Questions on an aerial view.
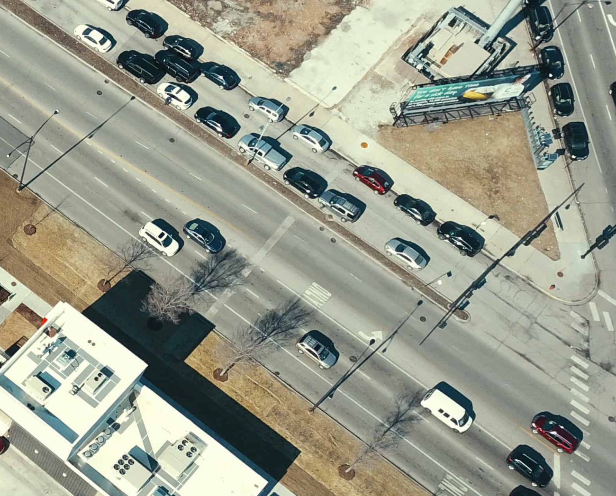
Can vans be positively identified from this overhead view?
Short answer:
Yes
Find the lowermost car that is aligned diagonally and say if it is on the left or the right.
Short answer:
right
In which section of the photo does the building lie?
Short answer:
bottom left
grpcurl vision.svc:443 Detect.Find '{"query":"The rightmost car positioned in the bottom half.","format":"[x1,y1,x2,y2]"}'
[531,420,580,455]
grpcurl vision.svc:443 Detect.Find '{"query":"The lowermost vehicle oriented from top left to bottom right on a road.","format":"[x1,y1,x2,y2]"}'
[506,450,551,487]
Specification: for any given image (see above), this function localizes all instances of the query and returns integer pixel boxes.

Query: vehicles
[293,129,333,155]
[563,123,589,161]
[384,241,428,269]
[194,112,236,140]
[436,225,482,257]
[352,169,389,194]
[393,198,432,225]
[200,66,237,91]
[319,189,358,219]
[156,86,193,111]
[73,28,113,53]
[551,85,575,117]
[162,38,195,62]
[506,450,551,487]
[137,223,178,256]
[423,389,471,430]
[158,56,198,84]
[90,0,124,11]
[295,333,336,367]
[530,9,552,41]
[607,82,616,117]
[531,420,580,455]
[182,223,223,253]
[540,47,563,79]
[282,169,325,198]
[126,14,162,40]
[248,99,285,124]
[118,57,160,84]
